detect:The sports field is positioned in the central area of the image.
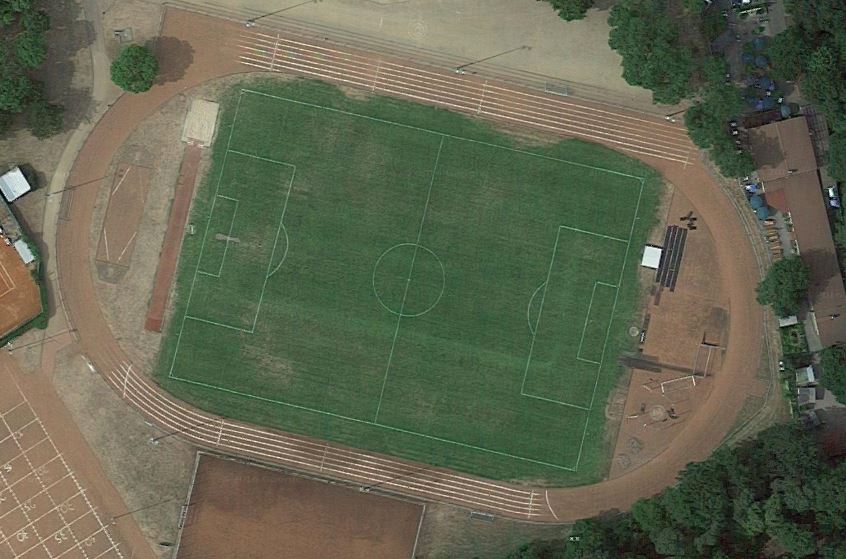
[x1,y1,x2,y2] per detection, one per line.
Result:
[154,77,663,489]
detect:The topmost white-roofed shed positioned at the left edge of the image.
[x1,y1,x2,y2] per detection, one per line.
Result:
[0,167,30,201]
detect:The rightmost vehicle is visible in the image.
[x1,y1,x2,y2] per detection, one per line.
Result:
[826,186,839,208]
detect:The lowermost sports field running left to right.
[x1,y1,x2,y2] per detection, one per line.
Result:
[172,452,425,559]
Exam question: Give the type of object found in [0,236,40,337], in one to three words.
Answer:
tennis court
